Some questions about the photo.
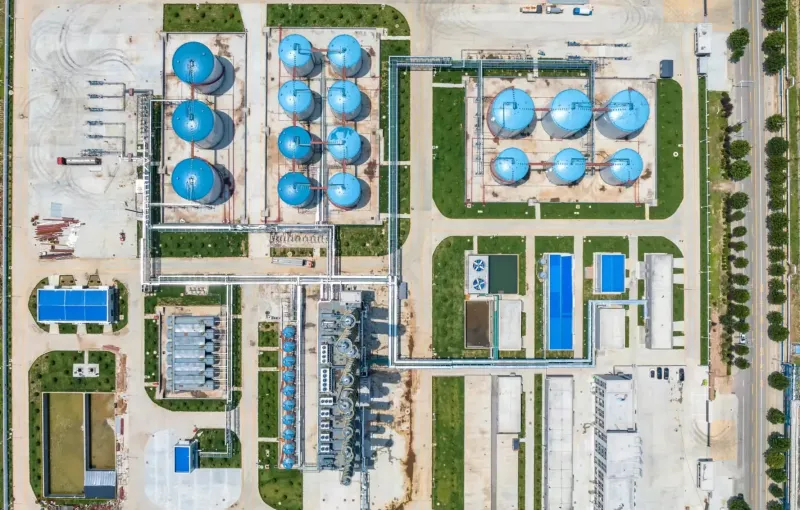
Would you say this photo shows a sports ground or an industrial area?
industrial area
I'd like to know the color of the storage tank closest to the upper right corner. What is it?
blue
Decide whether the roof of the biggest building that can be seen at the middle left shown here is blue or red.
blue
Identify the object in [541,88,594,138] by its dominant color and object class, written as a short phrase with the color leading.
blue storage tank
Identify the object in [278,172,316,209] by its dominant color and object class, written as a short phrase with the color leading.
blue storage tank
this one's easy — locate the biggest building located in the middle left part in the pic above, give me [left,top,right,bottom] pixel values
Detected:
[38,284,120,322]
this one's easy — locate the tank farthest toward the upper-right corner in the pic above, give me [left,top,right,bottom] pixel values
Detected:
[595,88,650,138]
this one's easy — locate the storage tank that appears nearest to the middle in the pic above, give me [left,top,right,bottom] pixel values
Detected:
[327,172,363,209]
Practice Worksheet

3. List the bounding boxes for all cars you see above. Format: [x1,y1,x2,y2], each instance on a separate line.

[678,368,685,381]
[656,367,663,379]
[650,369,655,379]
[739,333,745,344]
[663,368,670,380]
